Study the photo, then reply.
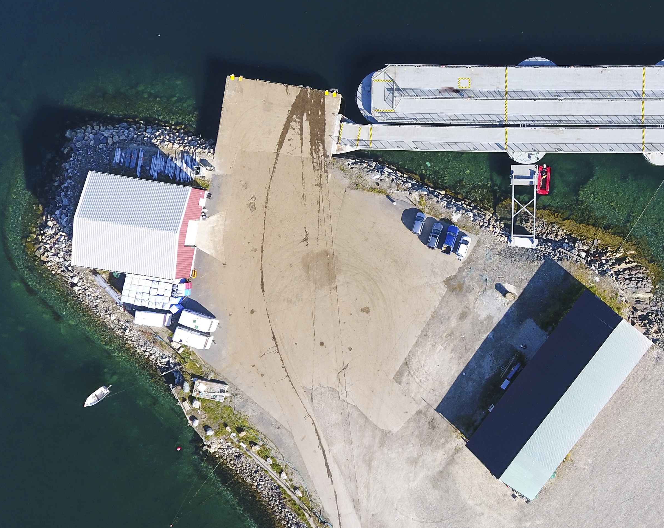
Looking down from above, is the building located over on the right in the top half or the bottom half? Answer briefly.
bottom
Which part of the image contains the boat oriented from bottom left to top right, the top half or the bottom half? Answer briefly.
bottom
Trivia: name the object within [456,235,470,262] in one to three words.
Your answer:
car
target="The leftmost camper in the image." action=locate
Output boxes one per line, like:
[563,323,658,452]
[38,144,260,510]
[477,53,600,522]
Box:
[135,308,180,326]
